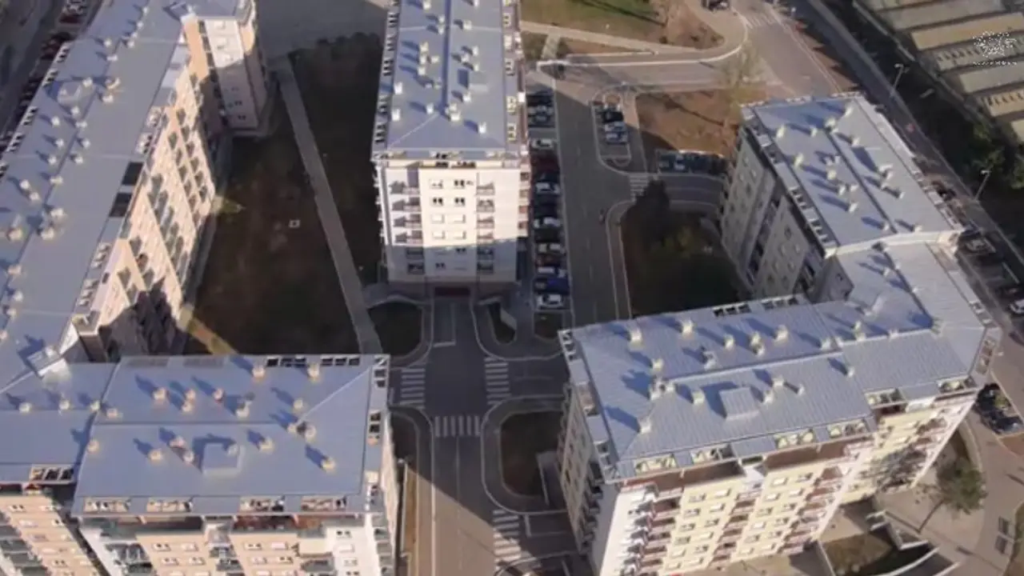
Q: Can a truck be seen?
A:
No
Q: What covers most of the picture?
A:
buildings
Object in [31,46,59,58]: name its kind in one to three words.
vehicle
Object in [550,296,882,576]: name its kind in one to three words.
building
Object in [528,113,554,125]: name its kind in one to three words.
vehicle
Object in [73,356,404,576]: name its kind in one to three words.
building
